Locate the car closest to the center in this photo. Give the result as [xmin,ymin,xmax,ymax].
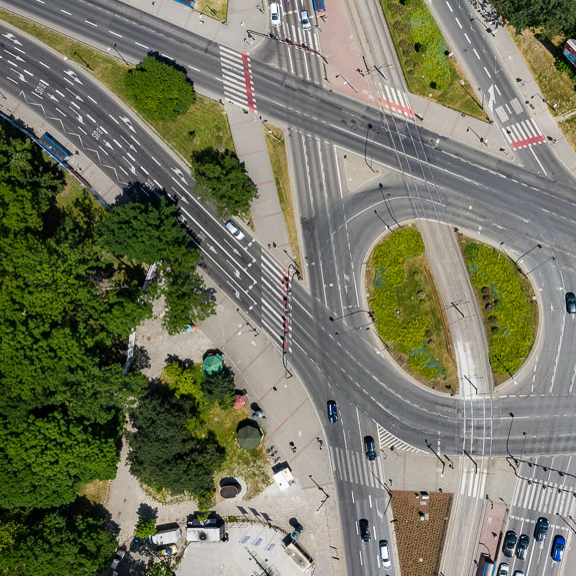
[225,221,246,241]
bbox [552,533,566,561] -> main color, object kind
blue car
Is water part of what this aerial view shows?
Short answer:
No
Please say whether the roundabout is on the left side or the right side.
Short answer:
right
